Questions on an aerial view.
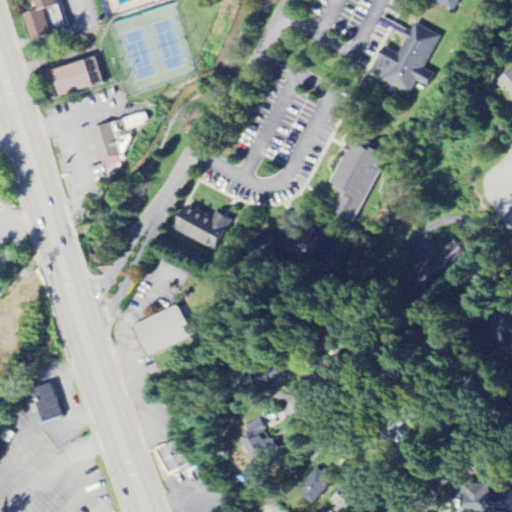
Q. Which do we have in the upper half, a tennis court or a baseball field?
tennis court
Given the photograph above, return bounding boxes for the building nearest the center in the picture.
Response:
[174,206,233,250]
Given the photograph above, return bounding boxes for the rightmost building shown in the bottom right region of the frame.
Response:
[461,482,490,512]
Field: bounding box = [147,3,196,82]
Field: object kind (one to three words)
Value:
tennis court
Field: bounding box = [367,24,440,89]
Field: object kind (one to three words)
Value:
building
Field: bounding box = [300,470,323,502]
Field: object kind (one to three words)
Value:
house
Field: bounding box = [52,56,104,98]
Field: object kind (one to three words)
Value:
house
